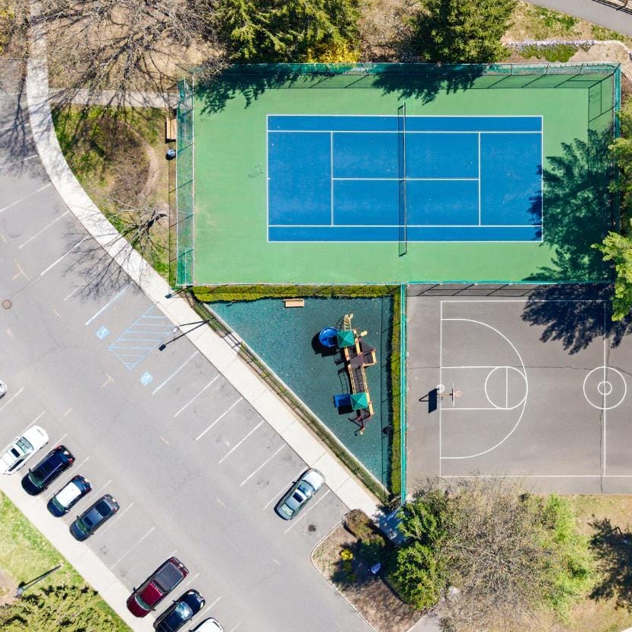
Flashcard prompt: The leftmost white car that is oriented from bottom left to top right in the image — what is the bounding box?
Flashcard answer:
[0,429,45,478]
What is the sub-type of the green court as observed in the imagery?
tennis court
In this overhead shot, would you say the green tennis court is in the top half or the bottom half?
top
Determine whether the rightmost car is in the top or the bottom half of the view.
bottom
